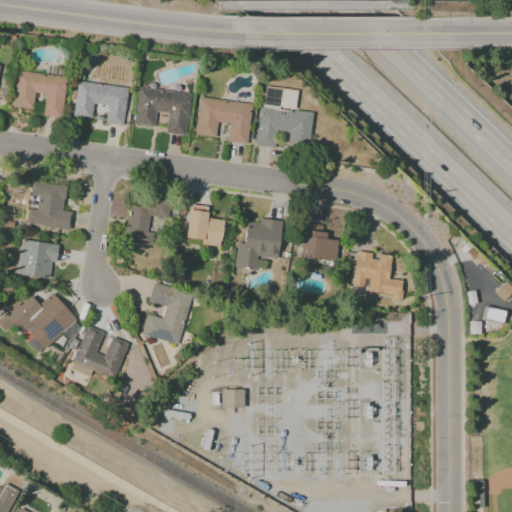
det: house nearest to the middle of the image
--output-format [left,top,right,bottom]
[236,219,284,268]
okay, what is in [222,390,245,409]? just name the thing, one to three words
building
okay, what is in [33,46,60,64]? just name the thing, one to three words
swimming pool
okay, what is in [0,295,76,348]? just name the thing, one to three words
house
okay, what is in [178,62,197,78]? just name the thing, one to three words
swimming pool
